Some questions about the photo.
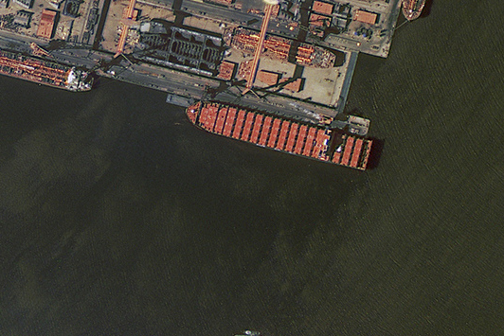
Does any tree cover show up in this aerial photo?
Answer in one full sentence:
No, there is no tree cover in the image.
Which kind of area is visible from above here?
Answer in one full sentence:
What you see here is a port.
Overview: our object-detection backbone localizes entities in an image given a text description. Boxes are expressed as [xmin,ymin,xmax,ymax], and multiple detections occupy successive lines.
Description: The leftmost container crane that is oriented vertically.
[104,0,137,64]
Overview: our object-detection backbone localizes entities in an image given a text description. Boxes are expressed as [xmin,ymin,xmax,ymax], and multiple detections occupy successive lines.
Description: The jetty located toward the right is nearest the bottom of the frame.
[344,115,372,138]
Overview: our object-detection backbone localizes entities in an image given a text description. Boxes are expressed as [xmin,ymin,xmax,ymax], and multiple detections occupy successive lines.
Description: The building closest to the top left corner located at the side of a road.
[37,10,57,41]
